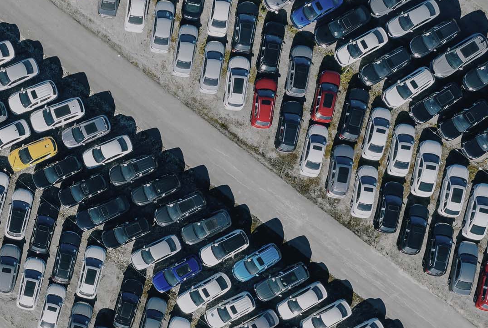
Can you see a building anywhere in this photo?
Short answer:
No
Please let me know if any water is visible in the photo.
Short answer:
No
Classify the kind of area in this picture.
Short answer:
parking lot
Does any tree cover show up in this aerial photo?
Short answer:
No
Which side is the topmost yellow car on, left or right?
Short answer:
left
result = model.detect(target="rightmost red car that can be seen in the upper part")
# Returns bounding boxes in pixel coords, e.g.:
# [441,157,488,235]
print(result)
[309,71,341,123]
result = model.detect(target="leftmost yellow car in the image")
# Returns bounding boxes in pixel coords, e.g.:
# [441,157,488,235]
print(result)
[8,136,59,171]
